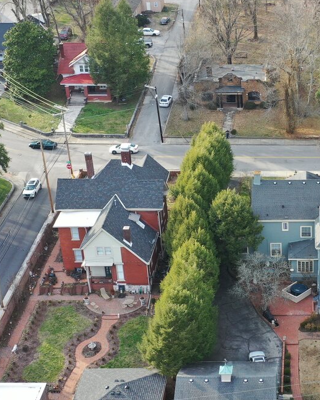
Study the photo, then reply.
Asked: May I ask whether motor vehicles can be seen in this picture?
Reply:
Yes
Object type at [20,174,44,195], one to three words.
car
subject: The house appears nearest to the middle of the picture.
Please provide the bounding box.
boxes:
[50,139,181,297]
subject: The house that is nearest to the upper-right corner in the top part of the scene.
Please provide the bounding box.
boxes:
[195,64,268,110]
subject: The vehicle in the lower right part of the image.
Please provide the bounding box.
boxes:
[249,345,266,362]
